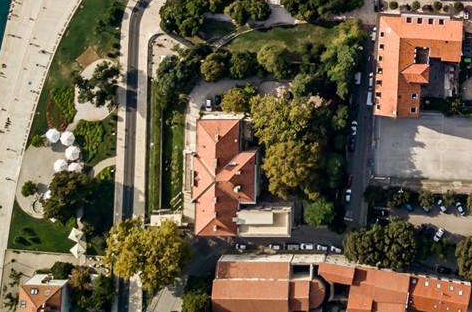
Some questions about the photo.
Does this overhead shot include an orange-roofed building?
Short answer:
Yes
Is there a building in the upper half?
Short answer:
Yes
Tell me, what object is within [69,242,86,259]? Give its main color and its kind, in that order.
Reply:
white umbrella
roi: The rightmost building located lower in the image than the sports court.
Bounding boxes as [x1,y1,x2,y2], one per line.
[403,269,471,312]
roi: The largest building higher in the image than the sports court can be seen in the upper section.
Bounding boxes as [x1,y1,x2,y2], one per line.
[372,13,461,117]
